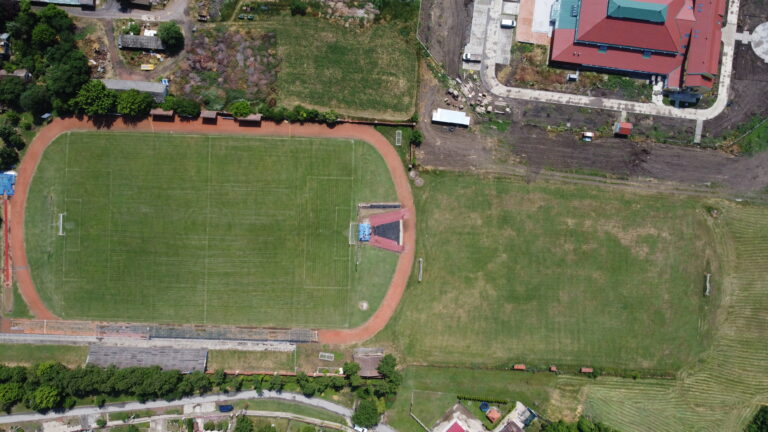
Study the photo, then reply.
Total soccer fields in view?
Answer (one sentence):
My tally gives 2 soccer fields in this view.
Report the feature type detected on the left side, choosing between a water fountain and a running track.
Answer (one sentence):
The feature located on the left side is a running track.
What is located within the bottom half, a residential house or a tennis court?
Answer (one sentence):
There is a residential house within the bottom half.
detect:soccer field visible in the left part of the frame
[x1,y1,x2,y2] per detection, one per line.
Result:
[25,130,400,330]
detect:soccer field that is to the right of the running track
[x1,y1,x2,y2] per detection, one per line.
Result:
[395,176,718,364]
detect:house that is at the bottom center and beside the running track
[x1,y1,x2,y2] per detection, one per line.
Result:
[352,346,385,376]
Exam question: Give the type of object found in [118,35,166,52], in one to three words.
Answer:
barn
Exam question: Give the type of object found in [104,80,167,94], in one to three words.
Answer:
shed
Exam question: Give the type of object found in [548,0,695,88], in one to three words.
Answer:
building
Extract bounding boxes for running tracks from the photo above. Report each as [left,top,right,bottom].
[11,118,416,345]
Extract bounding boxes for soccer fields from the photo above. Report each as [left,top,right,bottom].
[25,130,400,330]
[395,176,718,364]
